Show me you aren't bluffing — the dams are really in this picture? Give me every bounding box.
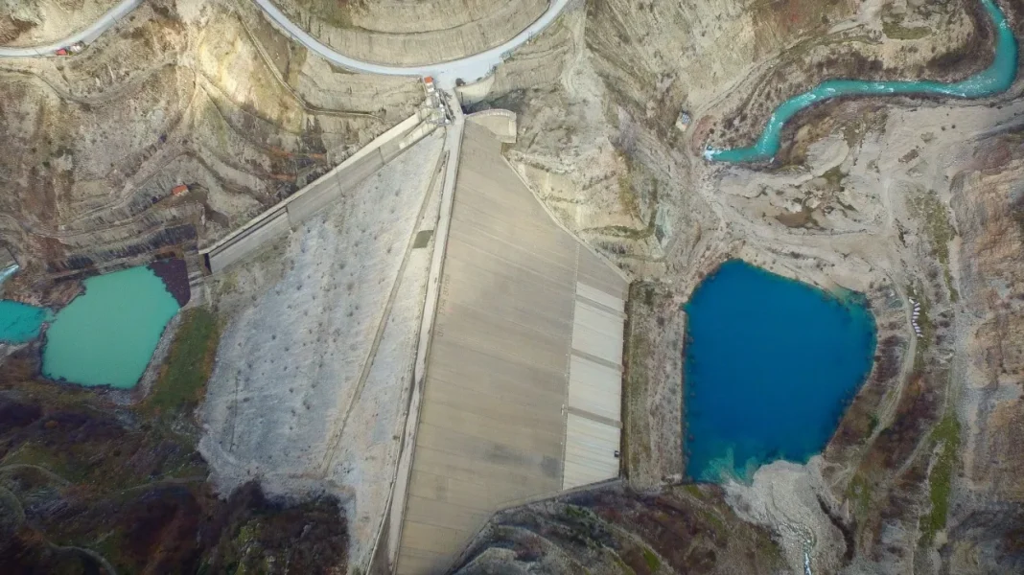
[201,107,631,575]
